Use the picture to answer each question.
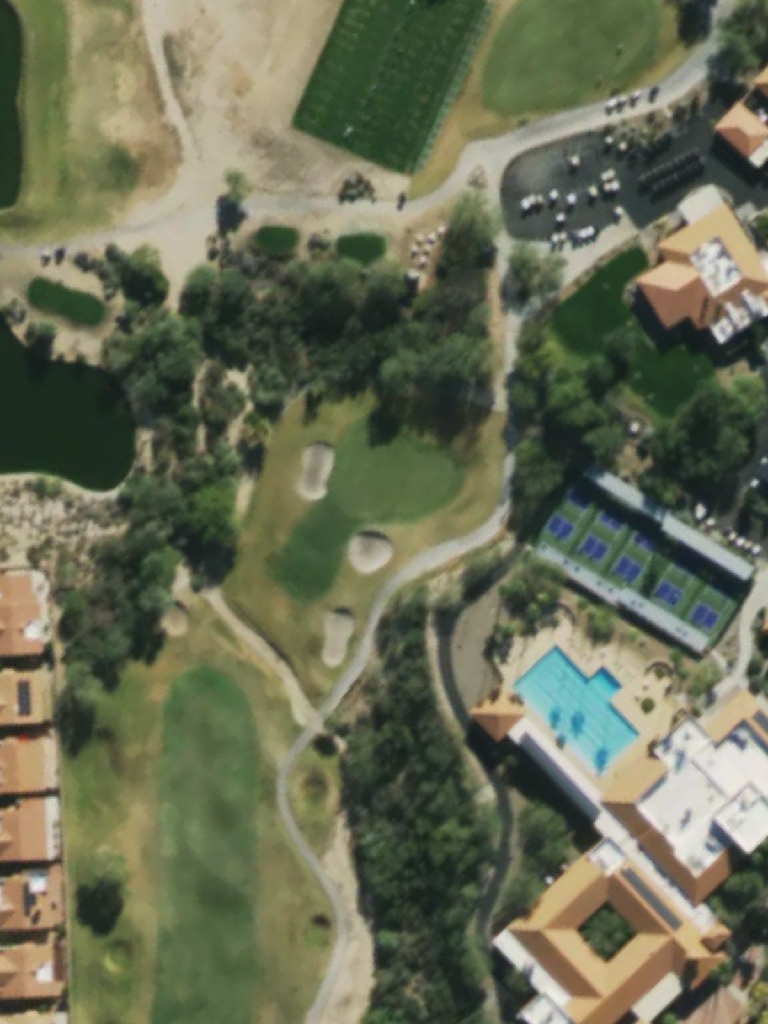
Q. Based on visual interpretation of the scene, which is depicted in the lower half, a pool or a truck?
pool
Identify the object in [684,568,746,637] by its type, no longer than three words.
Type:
sports court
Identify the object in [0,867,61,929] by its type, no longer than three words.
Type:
house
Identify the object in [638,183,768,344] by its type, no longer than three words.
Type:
building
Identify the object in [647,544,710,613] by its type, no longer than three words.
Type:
sports court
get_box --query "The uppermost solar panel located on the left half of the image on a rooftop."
[17,680,29,715]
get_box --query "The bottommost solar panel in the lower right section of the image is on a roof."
[621,869,684,932]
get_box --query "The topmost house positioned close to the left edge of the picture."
[0,570,51,656]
